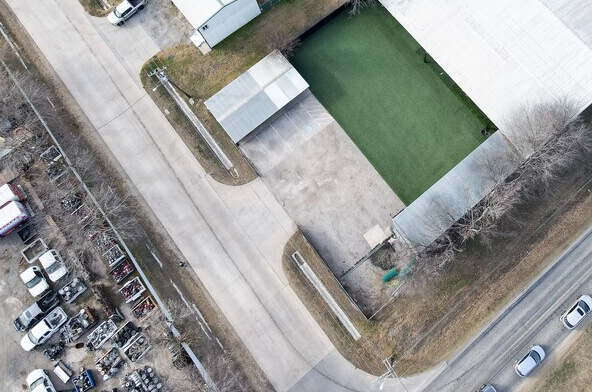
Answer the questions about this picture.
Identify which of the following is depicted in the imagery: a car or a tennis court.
car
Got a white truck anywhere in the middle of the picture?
No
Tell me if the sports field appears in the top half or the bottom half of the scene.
top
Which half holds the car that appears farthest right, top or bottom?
bottom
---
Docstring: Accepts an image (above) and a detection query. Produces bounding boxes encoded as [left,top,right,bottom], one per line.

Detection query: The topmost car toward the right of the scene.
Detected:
[557,291,592,333]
